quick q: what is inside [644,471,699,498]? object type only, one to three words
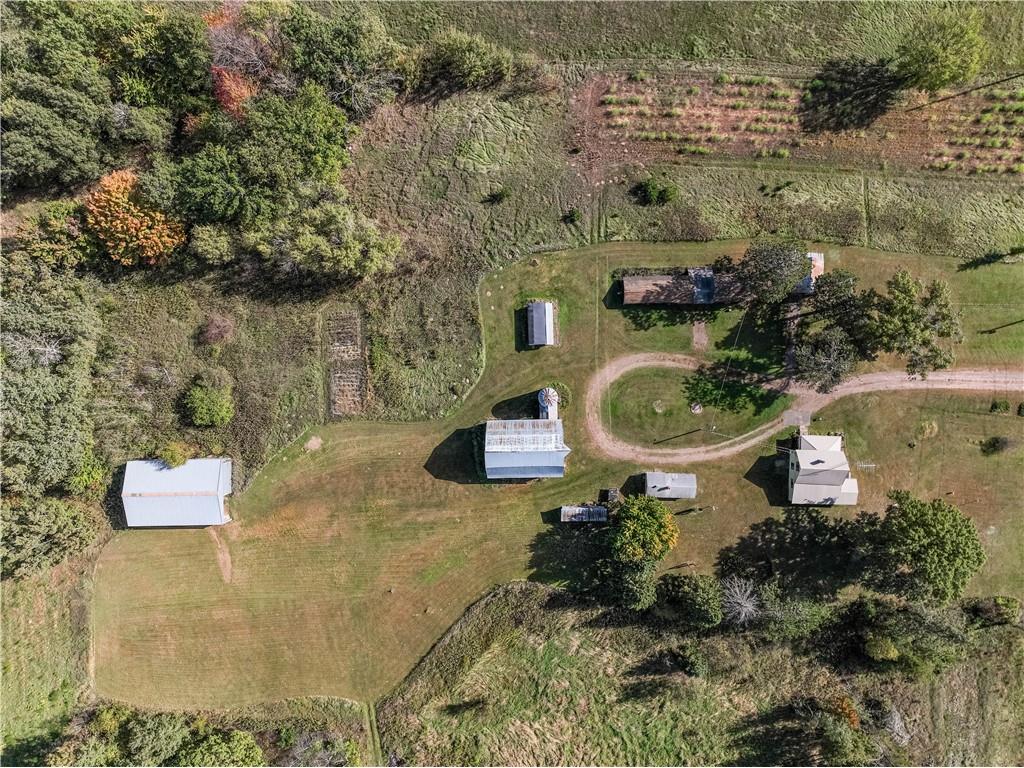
building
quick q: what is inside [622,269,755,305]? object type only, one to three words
shed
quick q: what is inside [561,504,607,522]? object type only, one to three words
shed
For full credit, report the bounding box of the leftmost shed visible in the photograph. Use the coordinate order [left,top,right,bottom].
[122,459,236,526]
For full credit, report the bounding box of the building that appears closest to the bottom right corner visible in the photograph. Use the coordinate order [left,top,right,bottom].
[779,435,859,505]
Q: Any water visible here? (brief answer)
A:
No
